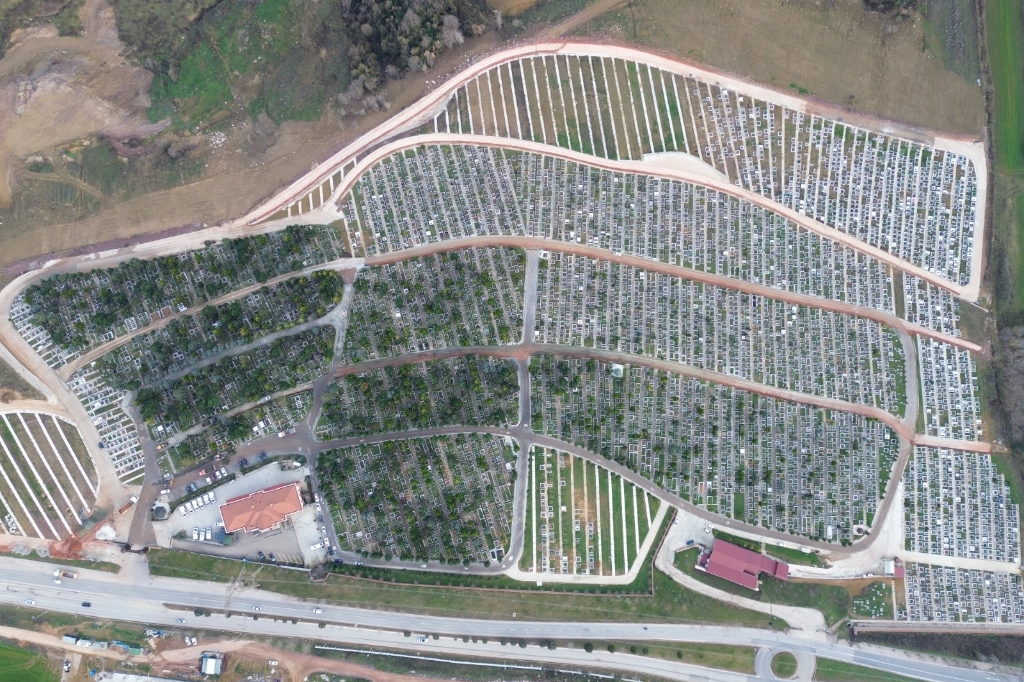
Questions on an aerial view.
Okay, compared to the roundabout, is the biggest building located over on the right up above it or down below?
above it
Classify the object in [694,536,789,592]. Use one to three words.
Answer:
building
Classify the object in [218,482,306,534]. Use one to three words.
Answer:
building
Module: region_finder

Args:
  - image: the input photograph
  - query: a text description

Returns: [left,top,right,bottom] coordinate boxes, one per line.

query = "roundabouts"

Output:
[752,644,817,682]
